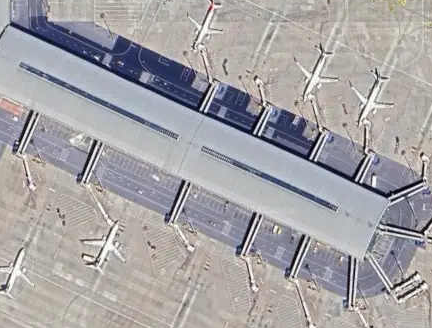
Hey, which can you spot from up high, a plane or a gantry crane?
plane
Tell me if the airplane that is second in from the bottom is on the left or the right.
left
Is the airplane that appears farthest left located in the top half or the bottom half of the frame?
bottom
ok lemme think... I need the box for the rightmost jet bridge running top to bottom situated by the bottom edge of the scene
[342,255,373,328]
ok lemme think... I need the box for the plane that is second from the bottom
[80,222,126,272]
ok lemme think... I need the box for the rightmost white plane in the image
[346,71,398,126]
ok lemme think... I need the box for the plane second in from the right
[292,46,341,100]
